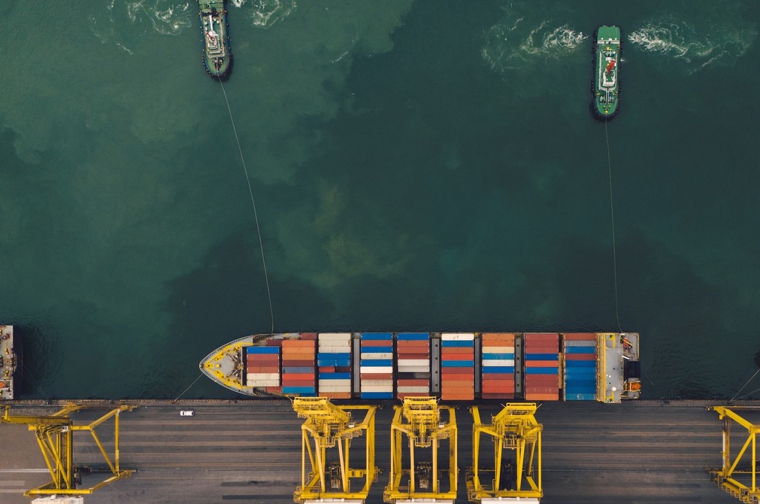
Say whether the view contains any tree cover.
No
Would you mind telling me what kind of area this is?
port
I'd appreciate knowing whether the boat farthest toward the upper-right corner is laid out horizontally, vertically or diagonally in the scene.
vertically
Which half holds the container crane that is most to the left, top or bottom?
bottom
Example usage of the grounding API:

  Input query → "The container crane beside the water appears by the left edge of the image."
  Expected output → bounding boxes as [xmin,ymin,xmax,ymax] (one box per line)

[0,405,133,504]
